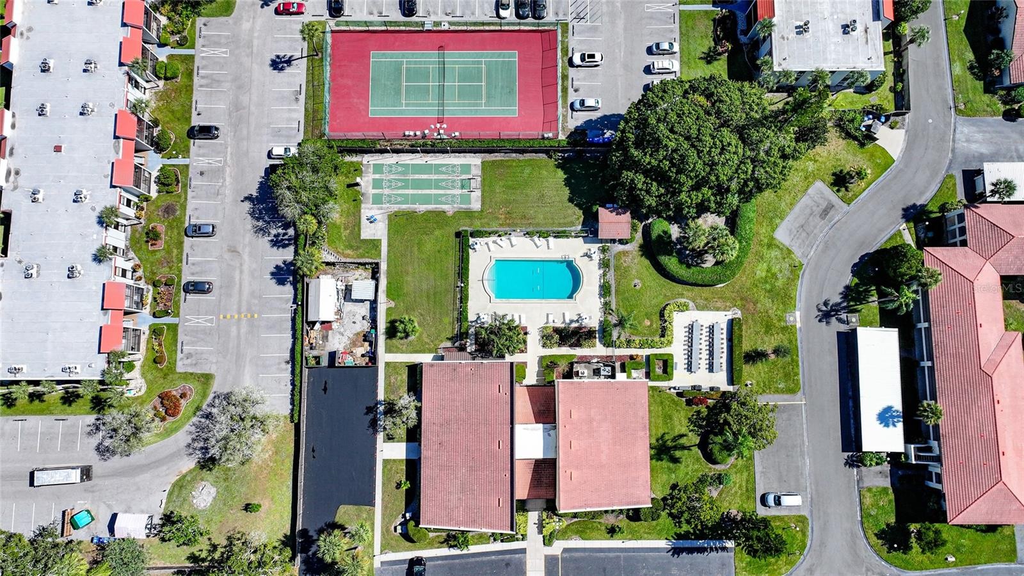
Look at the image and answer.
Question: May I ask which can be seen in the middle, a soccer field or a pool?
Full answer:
You can see a pool in the middle.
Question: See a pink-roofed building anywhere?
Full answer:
Yes, the frame does contain a pink-roofed building.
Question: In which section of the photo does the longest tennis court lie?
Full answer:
Look in the top portion of the view to spot the longest tennis court.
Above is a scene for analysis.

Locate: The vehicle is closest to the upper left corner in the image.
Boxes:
[187,125,219,138]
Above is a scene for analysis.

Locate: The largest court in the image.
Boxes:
[327,31,558,139]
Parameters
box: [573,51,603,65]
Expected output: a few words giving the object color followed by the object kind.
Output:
white car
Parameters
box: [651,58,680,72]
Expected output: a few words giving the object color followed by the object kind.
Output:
white car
